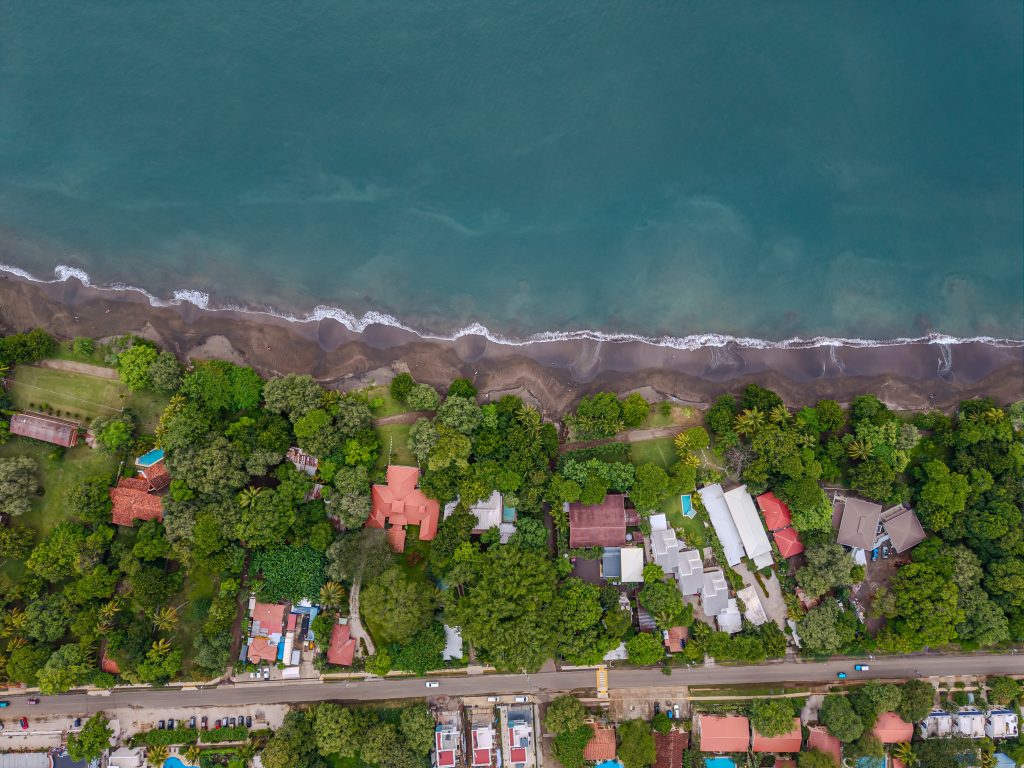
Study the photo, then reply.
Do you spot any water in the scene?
Yes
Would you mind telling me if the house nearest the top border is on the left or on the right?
left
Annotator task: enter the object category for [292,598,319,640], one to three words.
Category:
building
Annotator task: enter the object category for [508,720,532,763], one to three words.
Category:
house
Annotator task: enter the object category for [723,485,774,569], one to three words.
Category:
building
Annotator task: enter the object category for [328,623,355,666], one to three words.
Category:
house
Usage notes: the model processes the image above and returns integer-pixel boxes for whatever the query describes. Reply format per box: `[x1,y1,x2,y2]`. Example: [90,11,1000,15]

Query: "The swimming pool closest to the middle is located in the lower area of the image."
[503,506,516,522]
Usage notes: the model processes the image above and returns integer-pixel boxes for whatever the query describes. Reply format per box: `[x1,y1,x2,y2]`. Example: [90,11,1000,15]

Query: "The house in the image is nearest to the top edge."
[10,410,79,447]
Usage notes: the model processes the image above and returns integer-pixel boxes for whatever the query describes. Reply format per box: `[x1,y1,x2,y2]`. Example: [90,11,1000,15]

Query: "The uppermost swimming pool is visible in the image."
[136,448,164,467]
